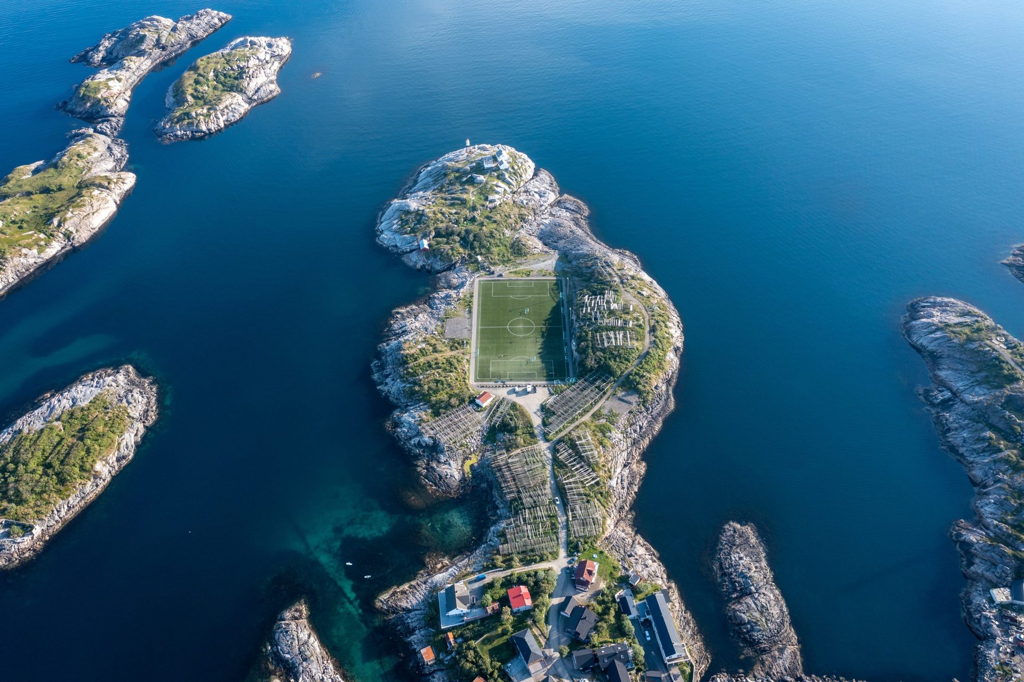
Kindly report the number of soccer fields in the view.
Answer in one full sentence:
There is 1 soccer field in the image.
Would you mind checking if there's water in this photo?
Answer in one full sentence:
Yes, there's water in this view.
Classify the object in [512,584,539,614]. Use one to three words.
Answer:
house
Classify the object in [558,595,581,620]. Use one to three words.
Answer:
building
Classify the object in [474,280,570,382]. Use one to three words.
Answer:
soccer field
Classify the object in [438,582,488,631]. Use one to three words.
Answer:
house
